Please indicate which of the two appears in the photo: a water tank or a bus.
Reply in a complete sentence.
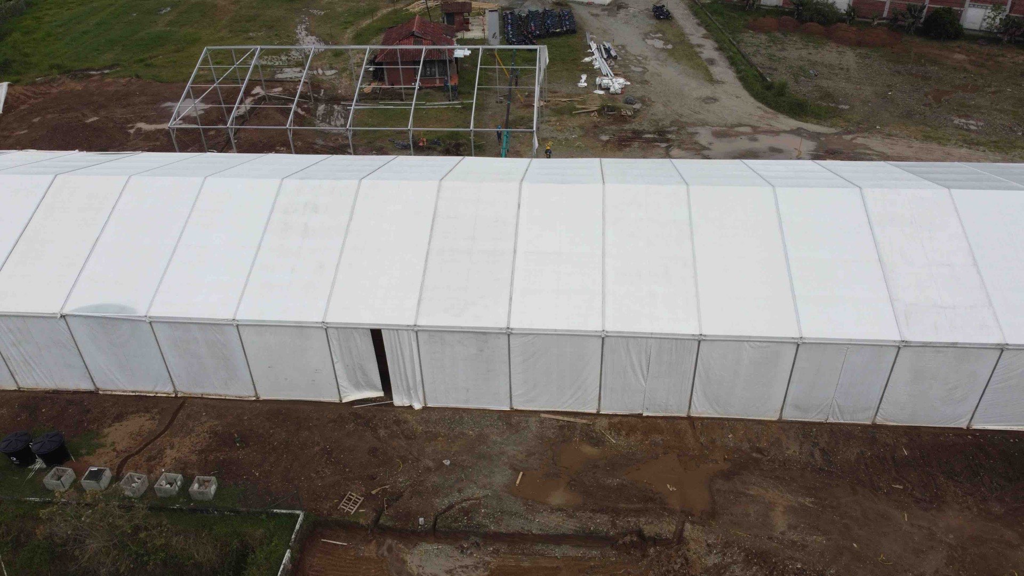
This aerial view contains a water tank.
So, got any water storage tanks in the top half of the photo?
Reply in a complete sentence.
No, the scene shows no water storage tank in the top half of the photo.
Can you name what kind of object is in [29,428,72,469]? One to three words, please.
water tank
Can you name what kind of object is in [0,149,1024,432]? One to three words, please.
tent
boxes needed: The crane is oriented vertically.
[499,49,517,157]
